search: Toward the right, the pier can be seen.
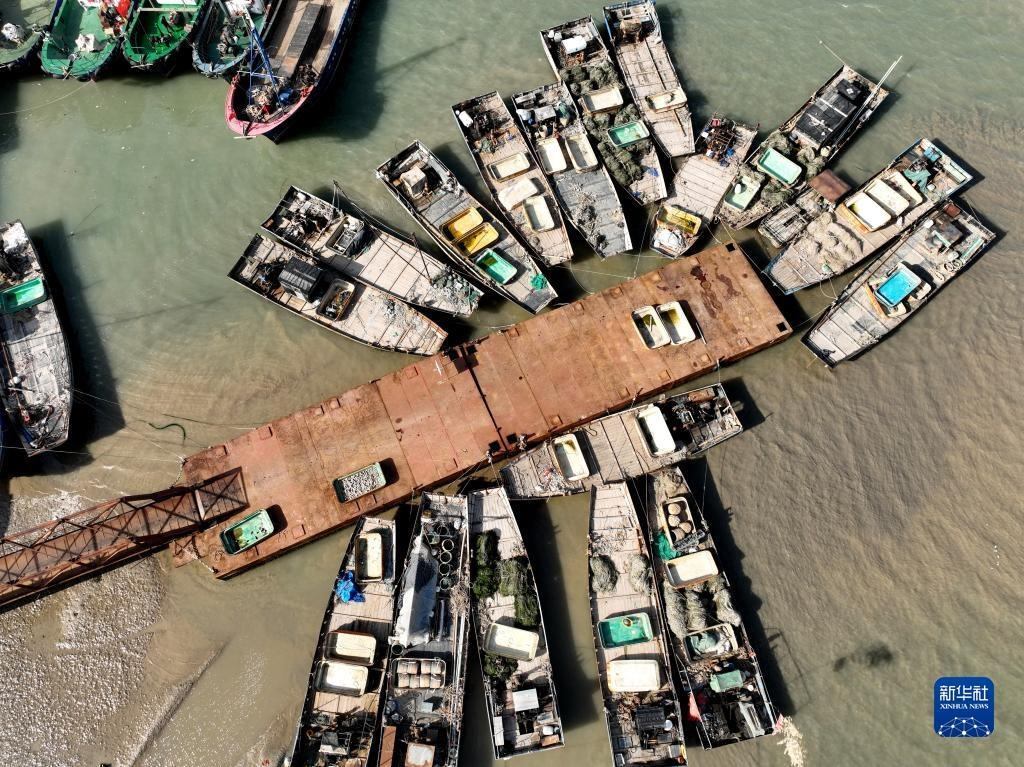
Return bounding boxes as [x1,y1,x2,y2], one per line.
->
[464,241,791,457]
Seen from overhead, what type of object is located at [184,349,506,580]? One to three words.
pier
